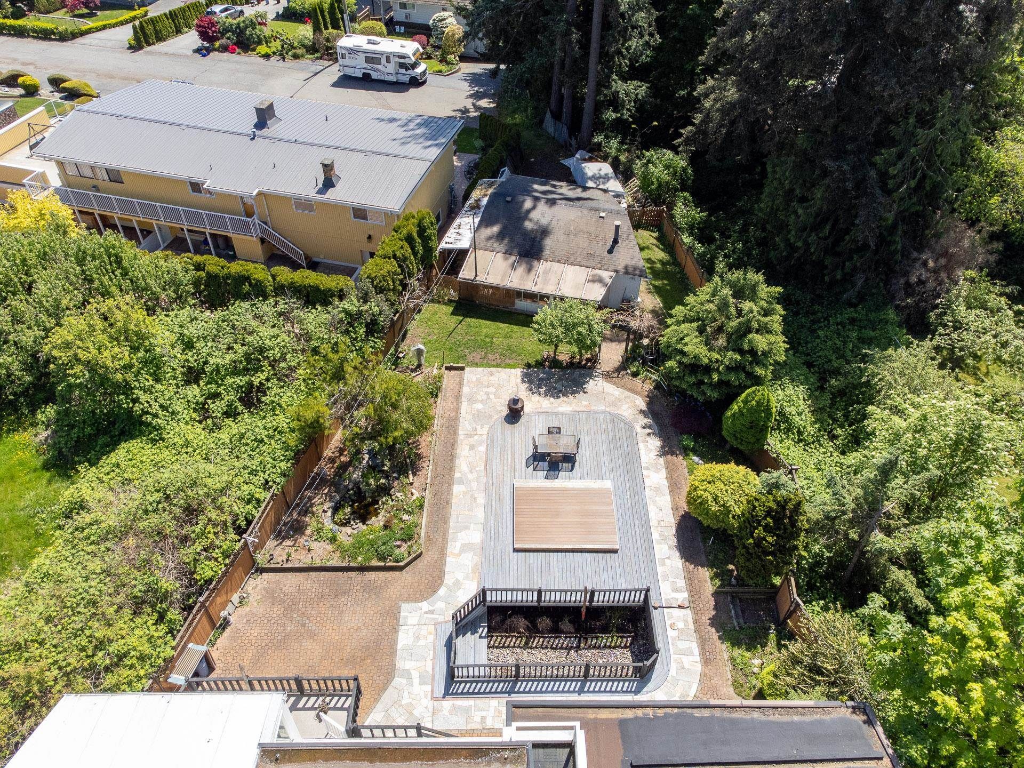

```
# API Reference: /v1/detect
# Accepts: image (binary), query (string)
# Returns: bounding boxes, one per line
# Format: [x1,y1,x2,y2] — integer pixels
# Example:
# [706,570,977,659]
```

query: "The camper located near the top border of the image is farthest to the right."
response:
[332,29,434,84]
